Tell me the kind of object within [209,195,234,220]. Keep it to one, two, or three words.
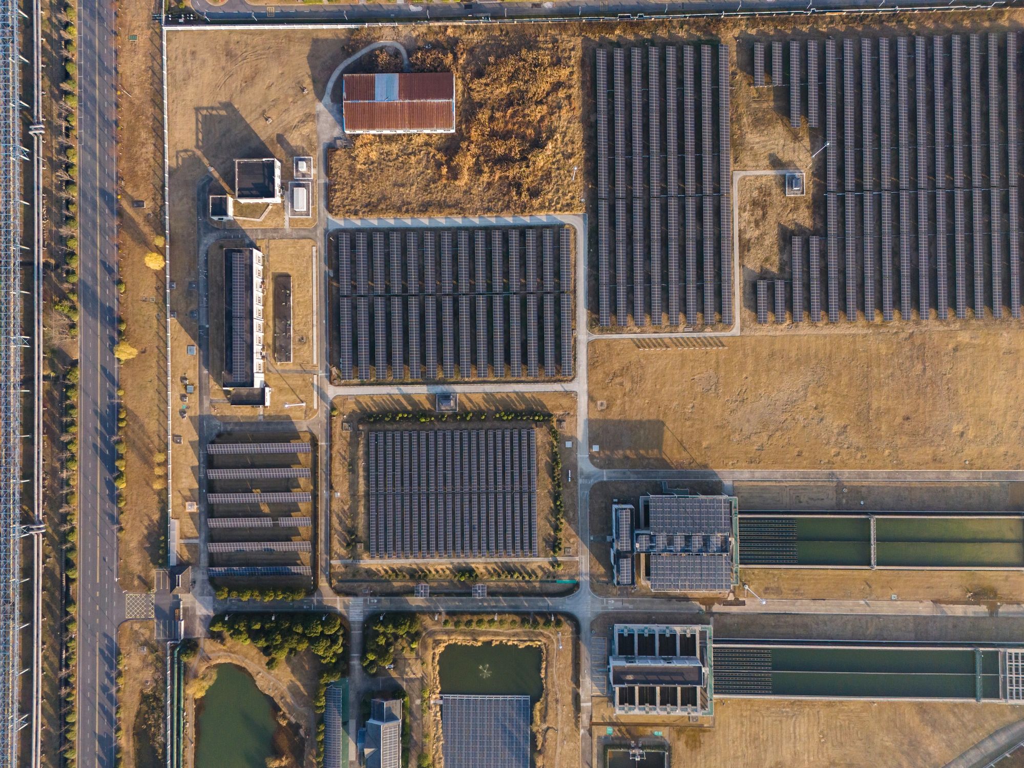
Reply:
building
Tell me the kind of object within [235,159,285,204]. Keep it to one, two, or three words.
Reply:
building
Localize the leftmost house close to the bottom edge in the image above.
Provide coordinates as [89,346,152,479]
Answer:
[358,695,403,768]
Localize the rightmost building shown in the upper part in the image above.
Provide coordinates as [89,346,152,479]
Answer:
[343,73,455,134]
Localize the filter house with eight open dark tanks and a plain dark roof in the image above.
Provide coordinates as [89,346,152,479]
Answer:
[606,622,714,716]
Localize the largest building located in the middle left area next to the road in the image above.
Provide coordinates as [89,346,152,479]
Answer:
[223,248,267,388]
